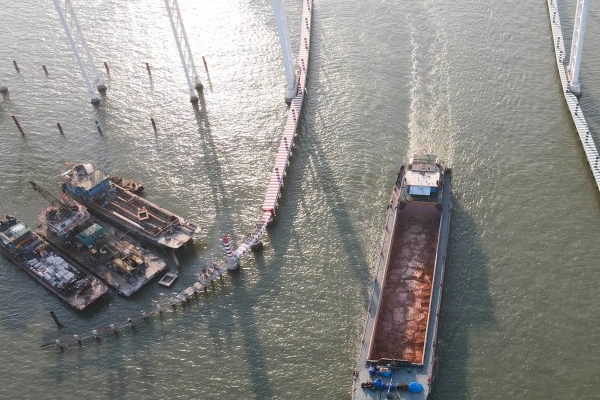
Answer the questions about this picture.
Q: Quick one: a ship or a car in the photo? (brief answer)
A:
ship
